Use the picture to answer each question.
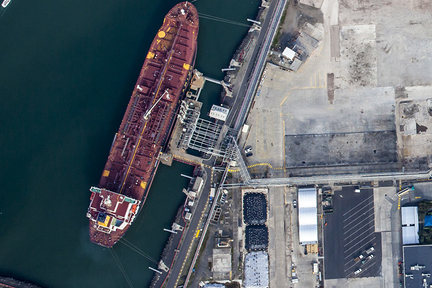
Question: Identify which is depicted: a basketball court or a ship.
ship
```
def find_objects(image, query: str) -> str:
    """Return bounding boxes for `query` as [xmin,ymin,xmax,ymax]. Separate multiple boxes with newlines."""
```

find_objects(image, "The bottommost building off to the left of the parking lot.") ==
[213,249,231,280]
